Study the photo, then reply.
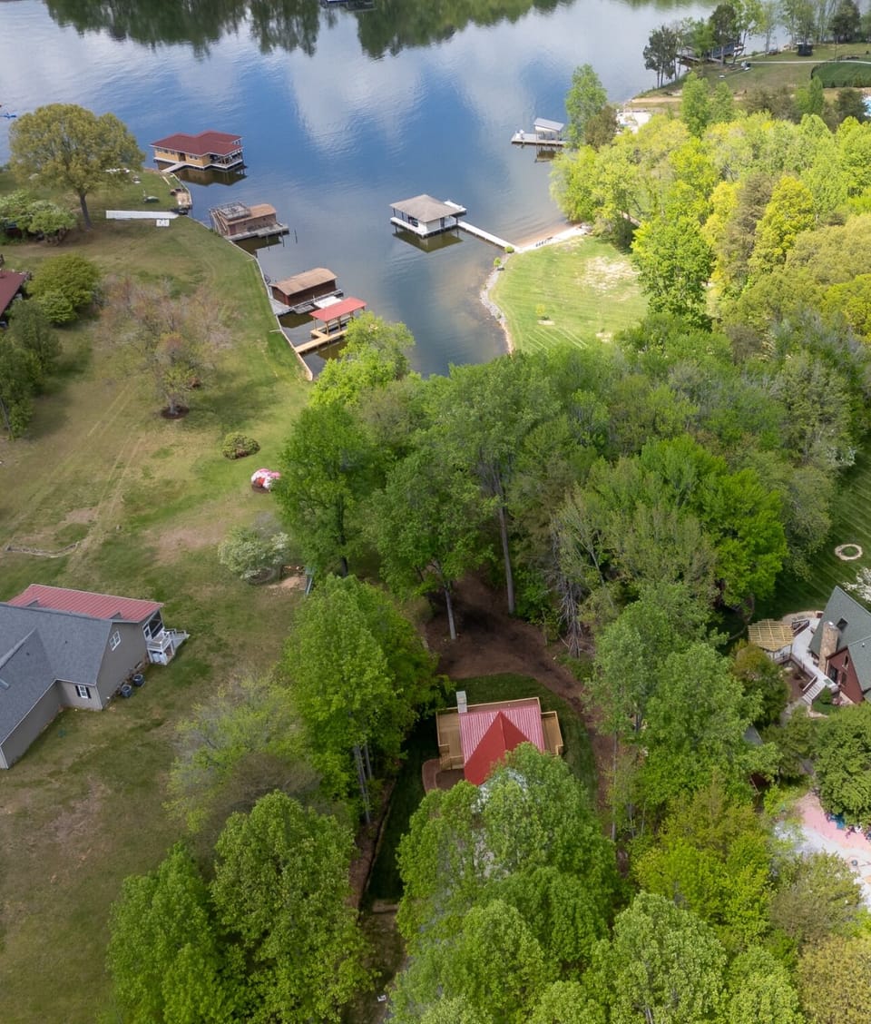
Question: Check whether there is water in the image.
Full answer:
Yes, some water is visible.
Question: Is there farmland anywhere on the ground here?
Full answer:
No, the picture contains no farmland.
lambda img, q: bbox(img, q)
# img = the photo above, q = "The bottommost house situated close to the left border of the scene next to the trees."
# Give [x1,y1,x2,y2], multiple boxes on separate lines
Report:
[0,576,197,773]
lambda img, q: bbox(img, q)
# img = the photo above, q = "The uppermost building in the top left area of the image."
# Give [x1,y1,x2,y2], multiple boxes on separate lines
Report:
[151,132,257,171]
